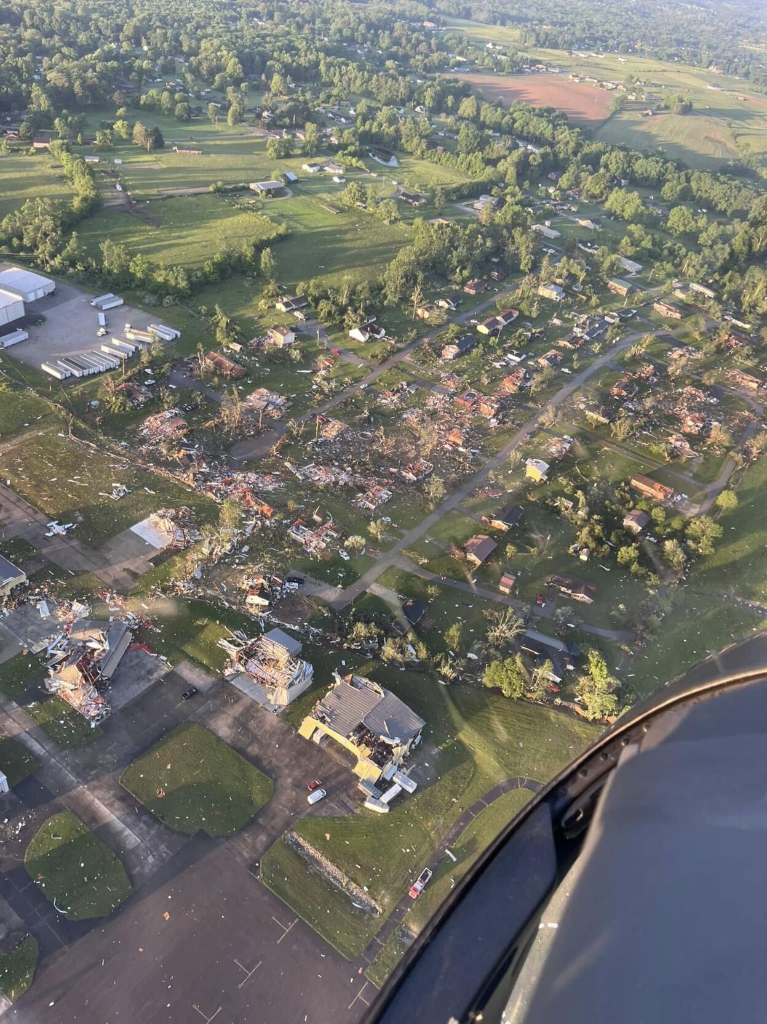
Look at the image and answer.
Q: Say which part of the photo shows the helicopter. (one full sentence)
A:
The helicopter is in the bottom right part of the image.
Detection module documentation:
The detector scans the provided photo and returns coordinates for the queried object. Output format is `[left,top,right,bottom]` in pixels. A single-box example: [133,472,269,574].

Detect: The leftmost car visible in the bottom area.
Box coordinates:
[179,684,200,698]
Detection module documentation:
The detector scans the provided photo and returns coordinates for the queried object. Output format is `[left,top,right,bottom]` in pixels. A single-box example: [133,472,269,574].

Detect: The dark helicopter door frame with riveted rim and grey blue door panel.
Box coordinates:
[358,632,767,1024]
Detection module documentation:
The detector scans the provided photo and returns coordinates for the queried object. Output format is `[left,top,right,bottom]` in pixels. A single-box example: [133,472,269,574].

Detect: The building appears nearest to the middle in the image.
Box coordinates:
[355,484,400,510]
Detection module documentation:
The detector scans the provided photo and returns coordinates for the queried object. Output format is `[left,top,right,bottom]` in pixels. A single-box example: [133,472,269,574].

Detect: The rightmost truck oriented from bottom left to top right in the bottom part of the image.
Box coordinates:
[411,860,437,895]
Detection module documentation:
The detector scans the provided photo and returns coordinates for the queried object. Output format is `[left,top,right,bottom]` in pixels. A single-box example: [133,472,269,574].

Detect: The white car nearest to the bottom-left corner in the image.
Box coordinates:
[307,788,327,803]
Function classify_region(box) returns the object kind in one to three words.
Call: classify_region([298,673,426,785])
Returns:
hangar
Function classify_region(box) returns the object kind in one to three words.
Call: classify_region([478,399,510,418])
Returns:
house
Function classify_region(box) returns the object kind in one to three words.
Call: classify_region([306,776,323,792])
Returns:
car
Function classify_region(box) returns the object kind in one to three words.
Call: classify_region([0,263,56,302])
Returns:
building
